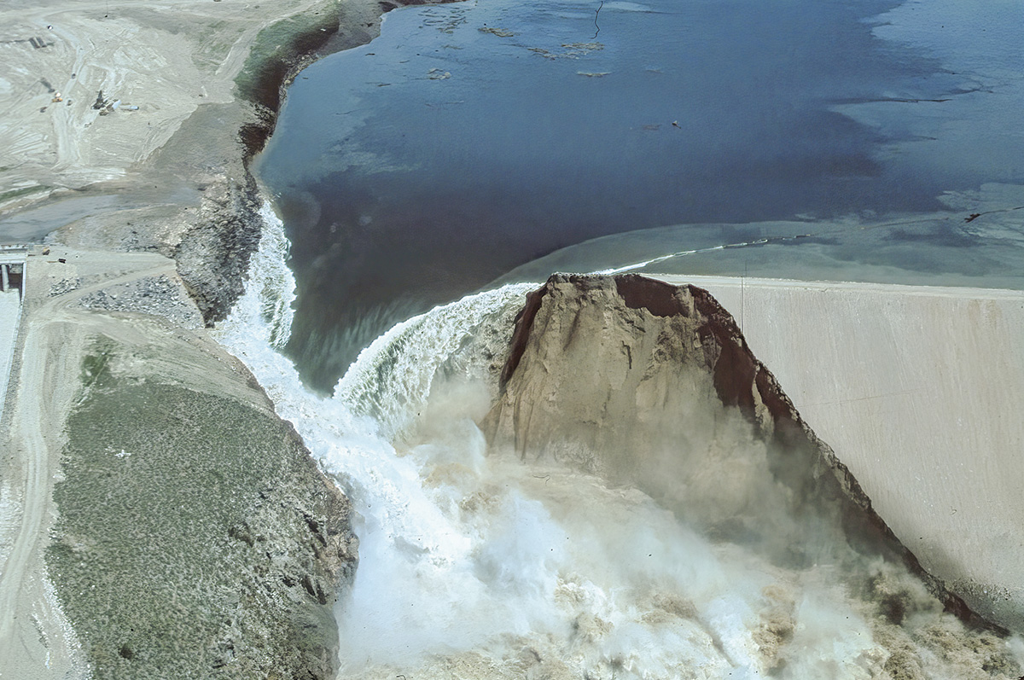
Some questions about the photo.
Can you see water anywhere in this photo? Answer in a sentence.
Yes, there is water in the image.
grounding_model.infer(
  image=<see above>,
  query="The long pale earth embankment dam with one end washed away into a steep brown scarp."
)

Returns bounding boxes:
[483,269,1024,647]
